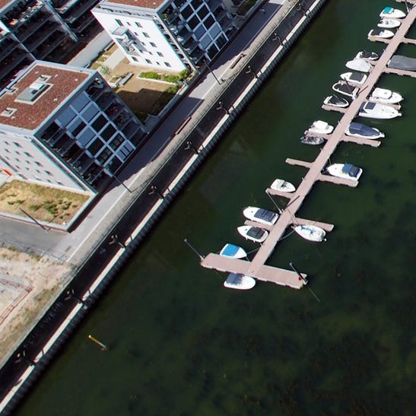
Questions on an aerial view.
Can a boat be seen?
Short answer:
Yes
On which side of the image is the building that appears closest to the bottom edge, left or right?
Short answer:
left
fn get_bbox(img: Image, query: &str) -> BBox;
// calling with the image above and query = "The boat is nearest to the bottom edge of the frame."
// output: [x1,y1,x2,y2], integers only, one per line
[221,279,258,292]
